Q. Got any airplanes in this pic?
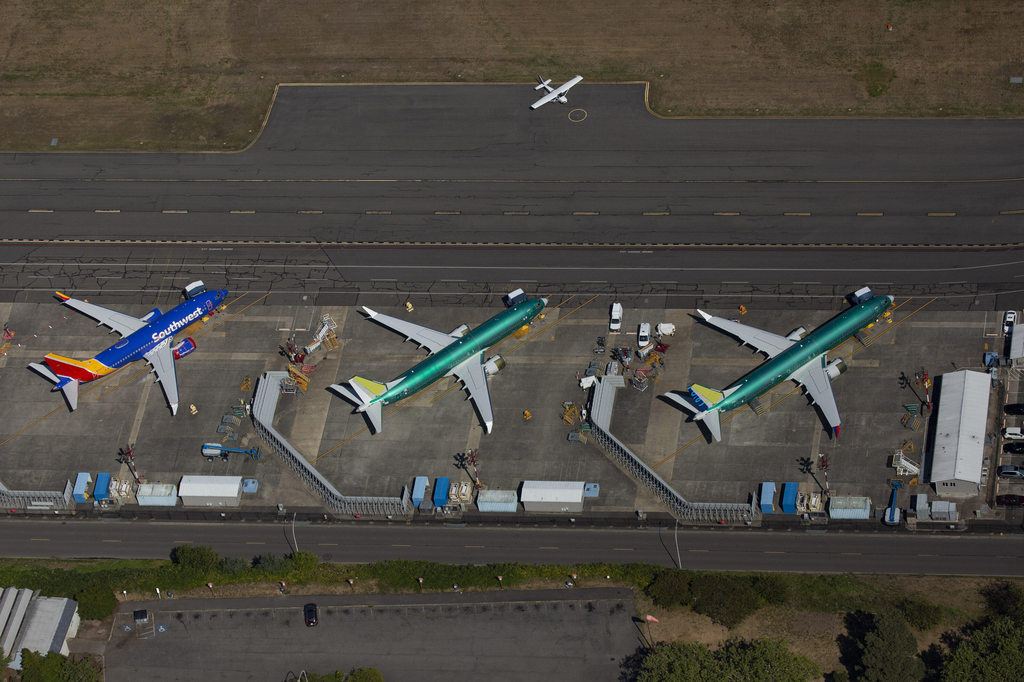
Yes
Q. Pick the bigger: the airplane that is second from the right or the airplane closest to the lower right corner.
the airplane closest to the lower right corner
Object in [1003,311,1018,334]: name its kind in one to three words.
car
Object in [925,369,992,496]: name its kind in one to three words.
building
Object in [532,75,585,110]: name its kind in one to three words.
airplane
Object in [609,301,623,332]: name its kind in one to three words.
vehicle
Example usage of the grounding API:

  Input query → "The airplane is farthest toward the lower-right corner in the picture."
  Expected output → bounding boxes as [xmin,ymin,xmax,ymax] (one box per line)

[664,295,895,442]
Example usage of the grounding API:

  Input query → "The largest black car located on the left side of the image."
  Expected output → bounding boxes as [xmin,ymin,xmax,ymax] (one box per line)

[303,604,318,629]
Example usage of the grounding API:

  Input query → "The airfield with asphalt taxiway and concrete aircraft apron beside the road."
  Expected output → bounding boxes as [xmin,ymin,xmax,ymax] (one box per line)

[0,80,1024,529]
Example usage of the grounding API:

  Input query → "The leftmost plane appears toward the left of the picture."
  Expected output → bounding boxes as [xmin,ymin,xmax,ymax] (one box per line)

[28,288,229,418]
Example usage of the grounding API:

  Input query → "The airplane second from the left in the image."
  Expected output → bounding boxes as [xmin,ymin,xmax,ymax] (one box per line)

[329,298,549,437]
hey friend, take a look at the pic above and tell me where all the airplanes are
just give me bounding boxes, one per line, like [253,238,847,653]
[329,298,549,437]
[664,295,895,442]
[28,288,229,418]
[532,75,585,110]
